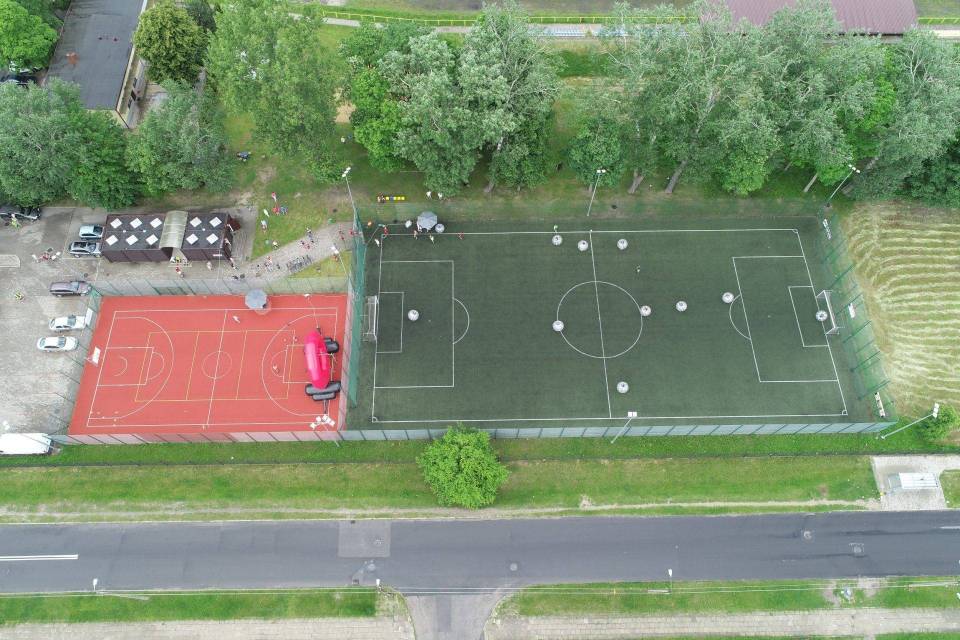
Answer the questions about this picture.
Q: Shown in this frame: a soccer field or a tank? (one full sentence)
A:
The one in the frame is a soccer field.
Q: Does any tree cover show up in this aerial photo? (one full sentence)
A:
Yes, tree cover shows up in the scene.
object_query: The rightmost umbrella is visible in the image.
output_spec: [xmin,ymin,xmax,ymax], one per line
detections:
[417,216,439,238]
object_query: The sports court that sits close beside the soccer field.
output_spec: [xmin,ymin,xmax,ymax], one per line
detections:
[68,292,352,444]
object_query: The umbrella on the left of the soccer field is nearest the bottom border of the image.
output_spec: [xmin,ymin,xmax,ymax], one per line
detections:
[245,291,268,313]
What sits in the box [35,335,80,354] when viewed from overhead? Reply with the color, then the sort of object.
white car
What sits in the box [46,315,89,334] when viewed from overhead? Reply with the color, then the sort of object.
white car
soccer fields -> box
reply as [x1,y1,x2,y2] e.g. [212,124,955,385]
[343,217,874,429]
